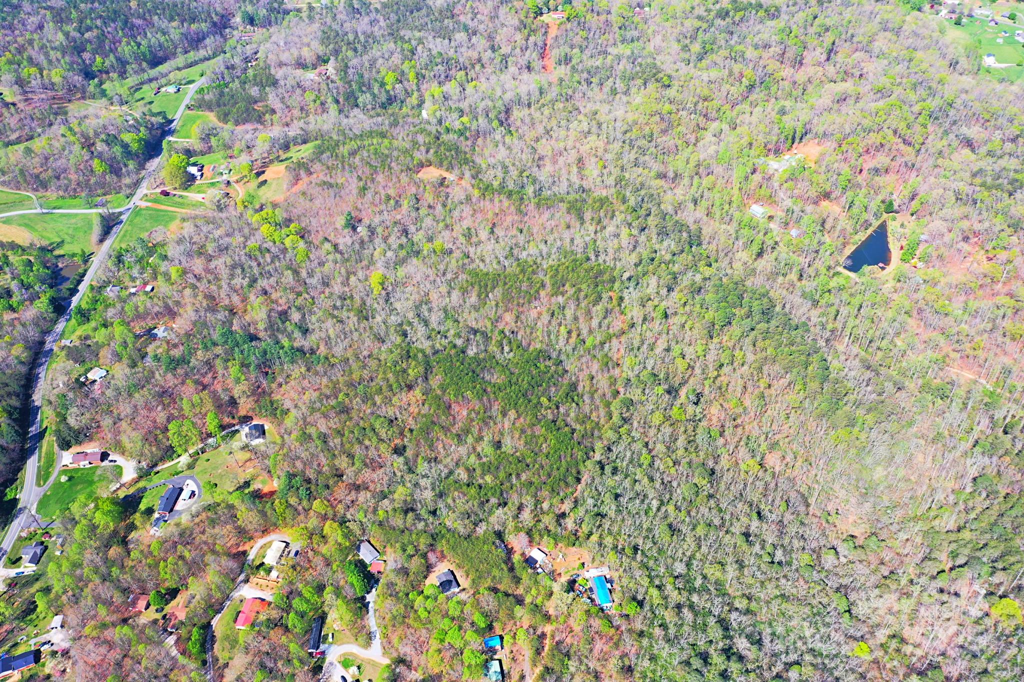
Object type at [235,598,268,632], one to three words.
house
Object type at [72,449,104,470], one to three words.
house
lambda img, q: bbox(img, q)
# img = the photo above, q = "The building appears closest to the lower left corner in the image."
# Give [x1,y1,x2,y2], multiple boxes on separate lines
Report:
[0,649,38,680]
